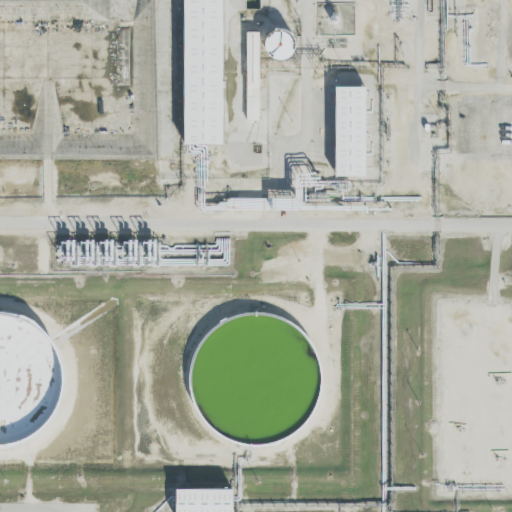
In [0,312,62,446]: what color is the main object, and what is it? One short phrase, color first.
white storage tank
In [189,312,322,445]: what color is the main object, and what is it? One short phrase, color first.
green storage tank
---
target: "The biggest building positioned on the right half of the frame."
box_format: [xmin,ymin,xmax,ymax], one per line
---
[336,86,367,176]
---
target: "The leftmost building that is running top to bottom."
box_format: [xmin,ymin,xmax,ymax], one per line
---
[184,0,222,144]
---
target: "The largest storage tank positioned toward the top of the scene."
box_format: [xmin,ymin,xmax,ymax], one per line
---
[265,28,297,60]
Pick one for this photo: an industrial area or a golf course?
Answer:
industrial area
